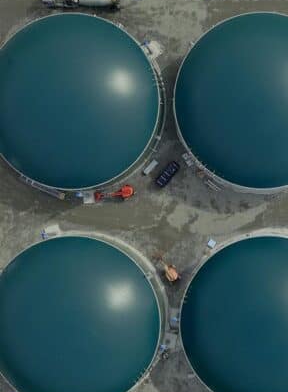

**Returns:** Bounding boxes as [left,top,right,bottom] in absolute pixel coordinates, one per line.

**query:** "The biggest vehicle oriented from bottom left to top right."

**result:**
[154,161,181,188]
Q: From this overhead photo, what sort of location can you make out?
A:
industrial area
